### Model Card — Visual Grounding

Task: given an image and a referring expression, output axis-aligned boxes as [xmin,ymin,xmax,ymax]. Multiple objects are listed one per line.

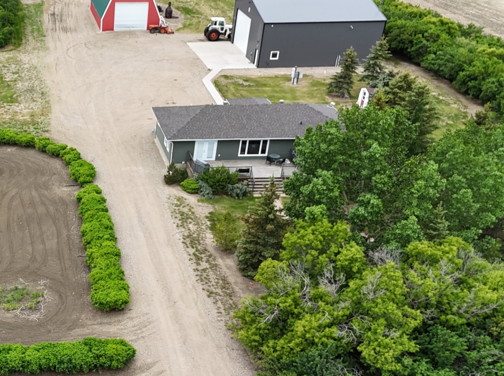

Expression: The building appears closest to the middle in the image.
[149,96,339,167]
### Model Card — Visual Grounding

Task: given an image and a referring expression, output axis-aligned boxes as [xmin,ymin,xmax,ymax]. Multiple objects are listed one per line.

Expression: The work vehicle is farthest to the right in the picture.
[203,15,234,41]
